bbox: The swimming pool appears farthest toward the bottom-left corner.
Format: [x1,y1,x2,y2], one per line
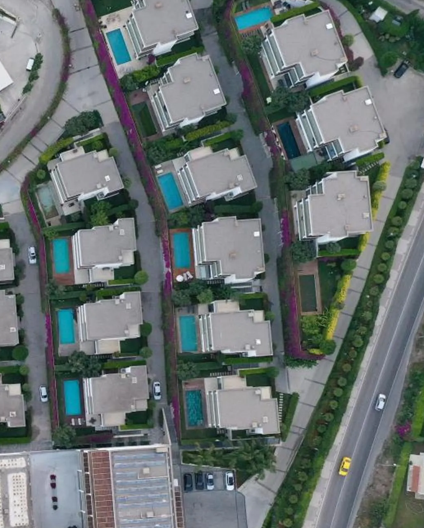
[62,379,83,416]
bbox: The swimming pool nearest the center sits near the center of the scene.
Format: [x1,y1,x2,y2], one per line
[173,232,192,268]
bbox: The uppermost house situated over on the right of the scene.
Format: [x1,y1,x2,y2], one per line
[259,10,347,88]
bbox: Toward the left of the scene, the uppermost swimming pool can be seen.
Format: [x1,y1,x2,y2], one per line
[104,26,133,65]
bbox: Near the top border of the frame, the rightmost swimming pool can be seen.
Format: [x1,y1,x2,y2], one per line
[233,5,274,31]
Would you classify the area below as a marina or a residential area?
residential area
